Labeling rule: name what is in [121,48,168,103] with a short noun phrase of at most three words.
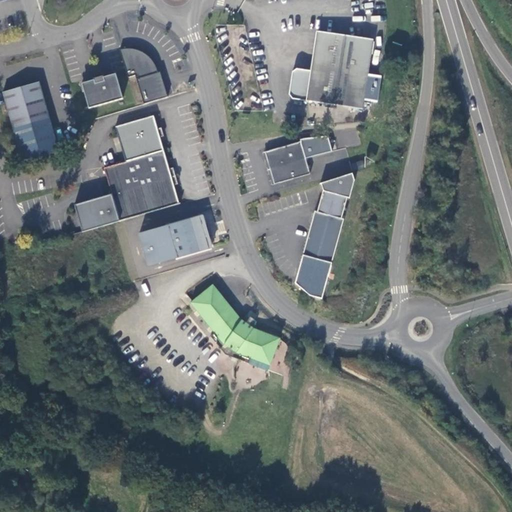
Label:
building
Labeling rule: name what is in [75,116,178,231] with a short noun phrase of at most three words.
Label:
building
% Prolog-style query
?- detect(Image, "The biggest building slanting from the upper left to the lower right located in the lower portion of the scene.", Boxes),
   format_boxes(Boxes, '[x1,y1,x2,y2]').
[191,284,281,372]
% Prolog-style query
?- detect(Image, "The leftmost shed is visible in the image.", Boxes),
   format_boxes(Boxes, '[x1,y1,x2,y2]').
[2,82,57,160]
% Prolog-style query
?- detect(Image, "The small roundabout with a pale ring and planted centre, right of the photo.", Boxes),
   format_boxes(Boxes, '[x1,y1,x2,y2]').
[391,298,450,358]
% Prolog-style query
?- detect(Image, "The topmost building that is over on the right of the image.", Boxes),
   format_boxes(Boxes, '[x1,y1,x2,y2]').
[288,31,382,108]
